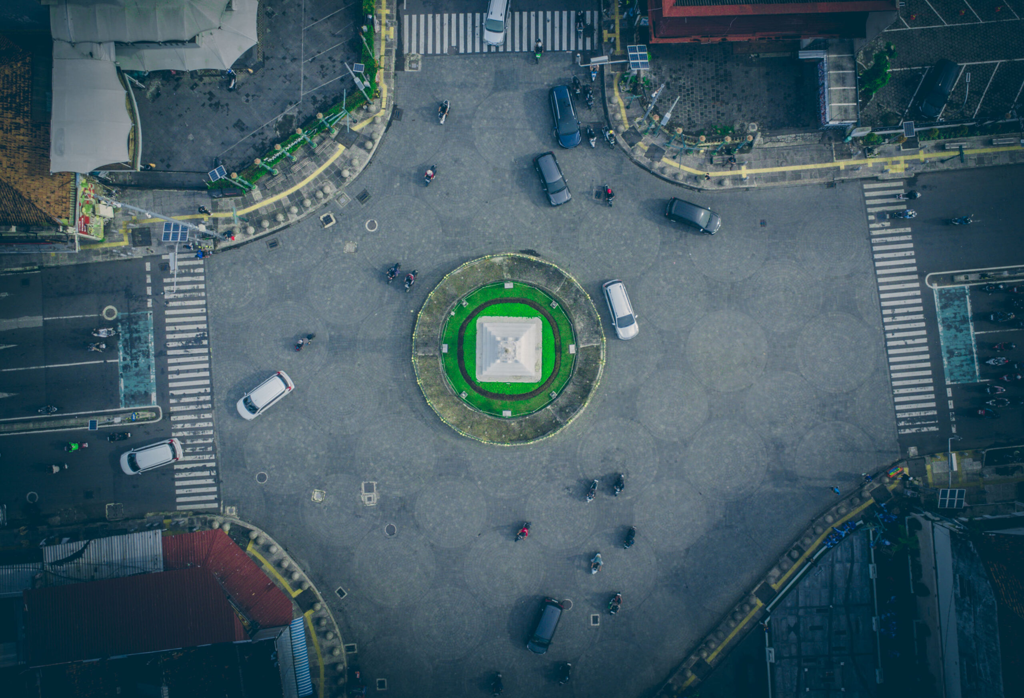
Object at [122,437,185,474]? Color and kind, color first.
white car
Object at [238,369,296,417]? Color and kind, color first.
white car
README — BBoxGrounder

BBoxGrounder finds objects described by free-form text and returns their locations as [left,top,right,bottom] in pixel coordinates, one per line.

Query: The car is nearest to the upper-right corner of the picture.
[914,54,965,119]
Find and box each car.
[527,596,563,652]
[547,82,582,150]
[664,196,719,236]
[122,437,185,474]
[600,277,637,341]
[534,150,569,207]
[482,0,514,49]
[914,54,965,119]
[238,369,296,417]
